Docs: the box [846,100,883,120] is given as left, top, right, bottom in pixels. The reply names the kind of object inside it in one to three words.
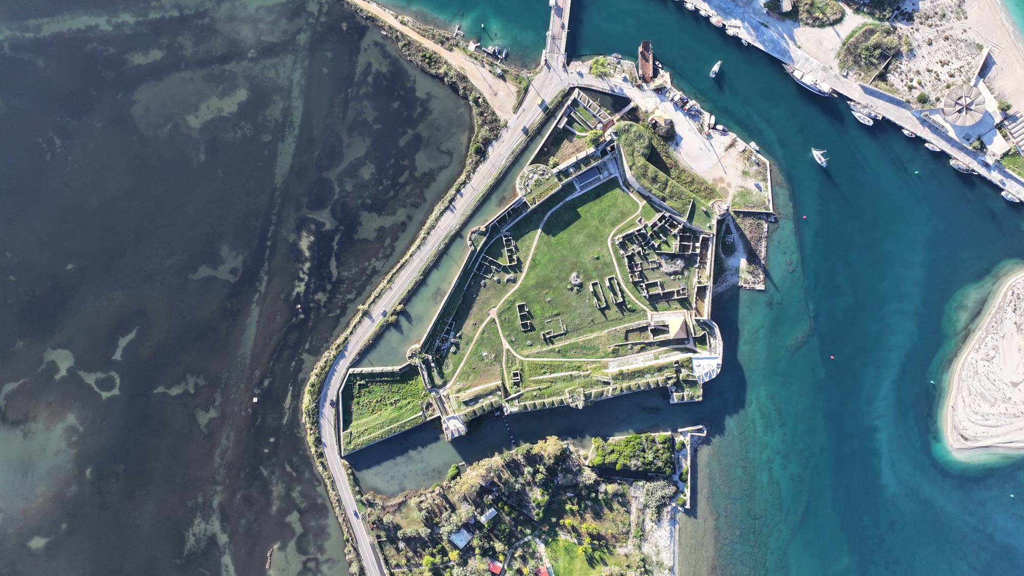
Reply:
boat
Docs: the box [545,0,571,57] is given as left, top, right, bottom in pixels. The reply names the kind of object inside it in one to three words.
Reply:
bridge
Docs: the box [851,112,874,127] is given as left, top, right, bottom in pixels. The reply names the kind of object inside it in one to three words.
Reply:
boat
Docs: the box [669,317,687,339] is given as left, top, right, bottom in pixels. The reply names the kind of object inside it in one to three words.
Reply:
house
